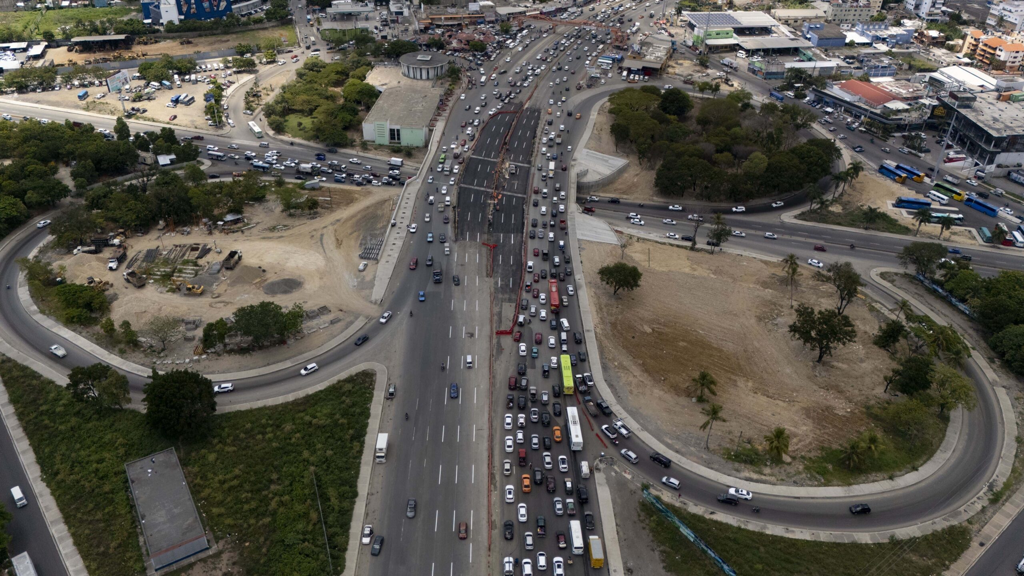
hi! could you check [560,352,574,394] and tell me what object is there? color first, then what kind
green vehicle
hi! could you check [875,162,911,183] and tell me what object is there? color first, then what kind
blue bus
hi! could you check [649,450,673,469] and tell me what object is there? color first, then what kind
black car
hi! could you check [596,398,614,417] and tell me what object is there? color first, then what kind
black vehicle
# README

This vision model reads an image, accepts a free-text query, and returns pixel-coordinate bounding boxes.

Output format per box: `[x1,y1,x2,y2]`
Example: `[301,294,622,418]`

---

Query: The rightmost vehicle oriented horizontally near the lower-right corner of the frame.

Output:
[846,503,874,516]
